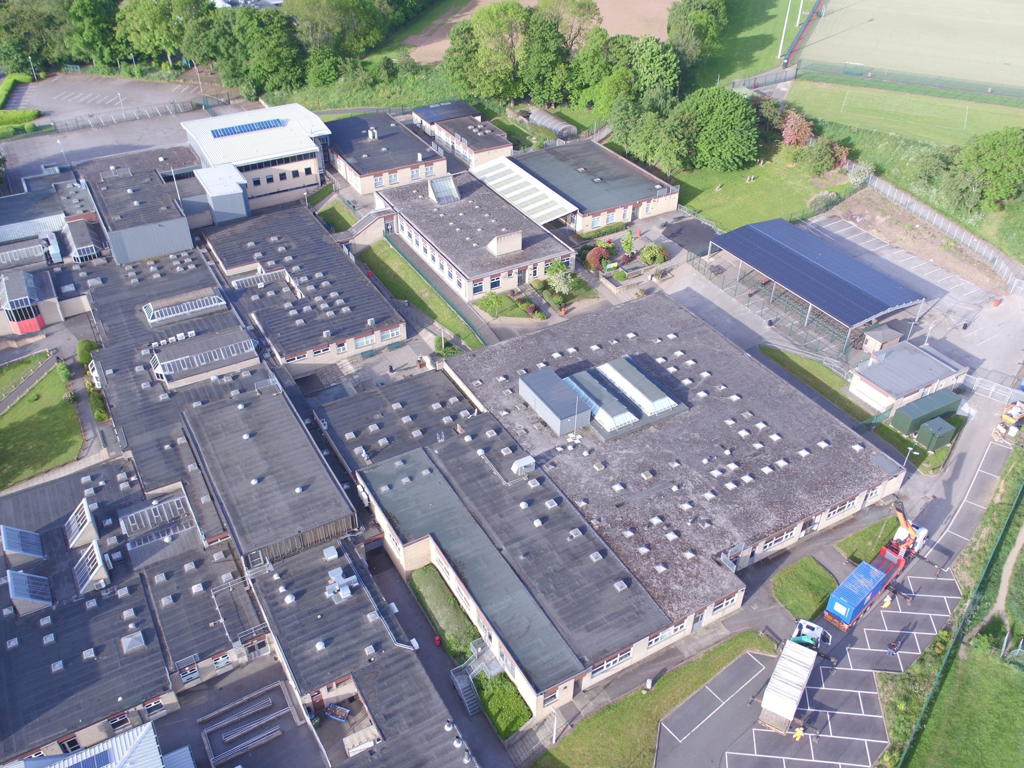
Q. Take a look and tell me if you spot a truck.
Yes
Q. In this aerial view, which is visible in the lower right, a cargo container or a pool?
cargo container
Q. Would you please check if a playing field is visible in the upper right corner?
Yes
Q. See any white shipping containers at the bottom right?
Yes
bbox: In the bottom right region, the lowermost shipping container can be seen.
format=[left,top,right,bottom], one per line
[761,640,817,720]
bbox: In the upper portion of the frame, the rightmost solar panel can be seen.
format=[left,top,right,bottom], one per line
[212,120,284,138]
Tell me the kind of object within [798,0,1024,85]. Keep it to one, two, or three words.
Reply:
sports field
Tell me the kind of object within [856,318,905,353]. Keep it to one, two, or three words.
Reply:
shed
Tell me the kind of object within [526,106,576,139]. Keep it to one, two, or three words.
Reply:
greenhouse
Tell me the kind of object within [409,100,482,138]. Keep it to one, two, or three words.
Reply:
building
